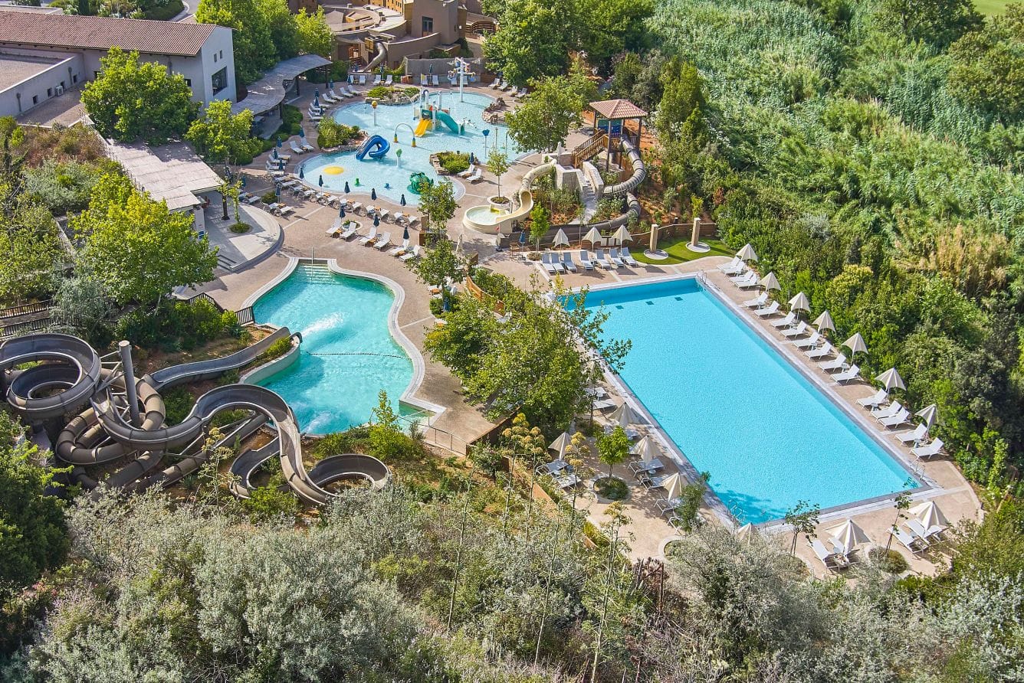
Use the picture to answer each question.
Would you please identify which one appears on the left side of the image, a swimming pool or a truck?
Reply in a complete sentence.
There is a swimming pool on the left side of the image.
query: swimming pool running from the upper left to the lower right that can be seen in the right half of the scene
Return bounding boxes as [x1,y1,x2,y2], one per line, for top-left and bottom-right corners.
[550,270,959,552]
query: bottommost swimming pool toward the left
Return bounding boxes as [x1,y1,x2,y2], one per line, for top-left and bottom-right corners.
[240,257,451,453]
